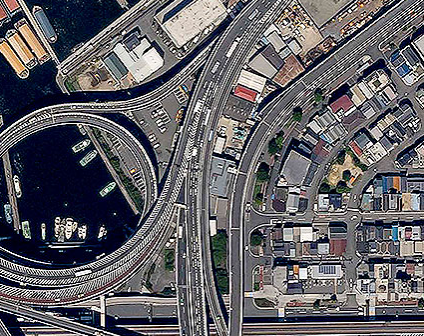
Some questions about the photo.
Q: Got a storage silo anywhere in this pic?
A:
No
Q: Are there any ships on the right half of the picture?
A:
No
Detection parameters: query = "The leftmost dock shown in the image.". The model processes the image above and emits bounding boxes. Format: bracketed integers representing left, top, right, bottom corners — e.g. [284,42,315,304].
[3,160,20,228]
